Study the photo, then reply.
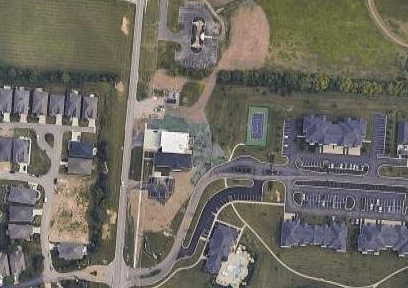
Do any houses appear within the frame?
Yes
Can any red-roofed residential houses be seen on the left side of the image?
No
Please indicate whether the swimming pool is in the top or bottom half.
bottom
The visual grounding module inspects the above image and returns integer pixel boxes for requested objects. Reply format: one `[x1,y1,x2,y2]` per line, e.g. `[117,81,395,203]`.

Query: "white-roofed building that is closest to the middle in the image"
[160,131,189,153]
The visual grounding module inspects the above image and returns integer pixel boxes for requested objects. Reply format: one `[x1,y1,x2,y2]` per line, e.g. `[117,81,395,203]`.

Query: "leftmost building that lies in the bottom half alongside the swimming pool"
[205,224,240,272]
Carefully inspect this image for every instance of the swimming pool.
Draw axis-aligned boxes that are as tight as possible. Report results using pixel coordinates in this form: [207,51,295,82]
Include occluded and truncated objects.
[219,246,252,288]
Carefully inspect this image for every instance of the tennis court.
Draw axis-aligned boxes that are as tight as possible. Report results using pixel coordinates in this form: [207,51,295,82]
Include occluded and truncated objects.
[247,105,268,145]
